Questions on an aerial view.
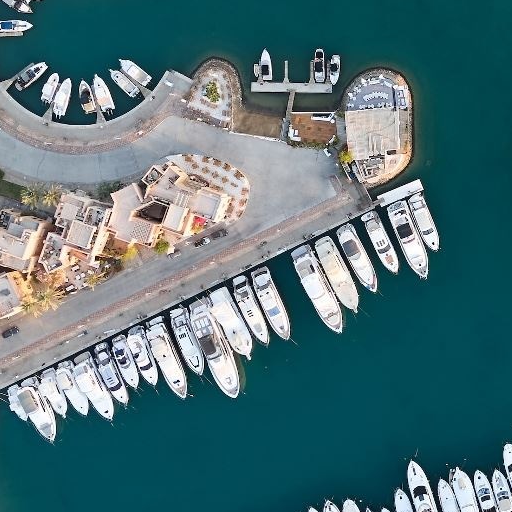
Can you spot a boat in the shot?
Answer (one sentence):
Yes, the frame does contain a boat.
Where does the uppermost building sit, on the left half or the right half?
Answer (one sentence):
The uppermost building appears in the right half of the scene.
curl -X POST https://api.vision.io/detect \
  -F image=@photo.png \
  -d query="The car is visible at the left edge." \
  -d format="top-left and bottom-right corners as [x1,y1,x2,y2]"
[1,325,20,339]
